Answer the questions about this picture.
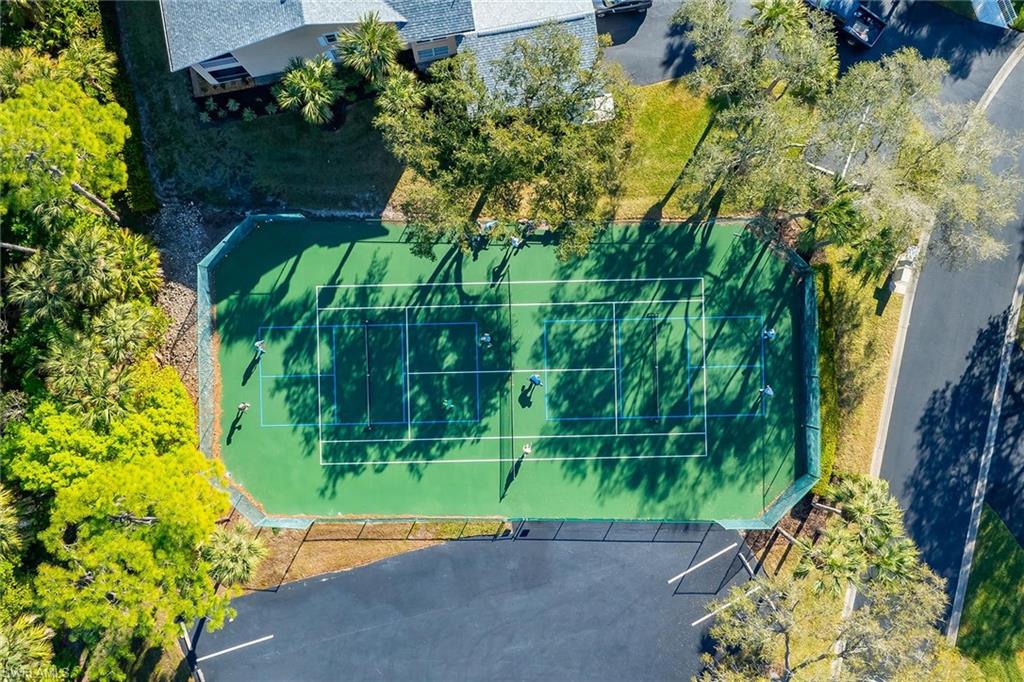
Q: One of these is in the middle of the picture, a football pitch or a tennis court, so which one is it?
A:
tennis court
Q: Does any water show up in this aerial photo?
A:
No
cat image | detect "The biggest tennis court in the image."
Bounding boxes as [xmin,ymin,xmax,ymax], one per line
[220,221,805,518]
